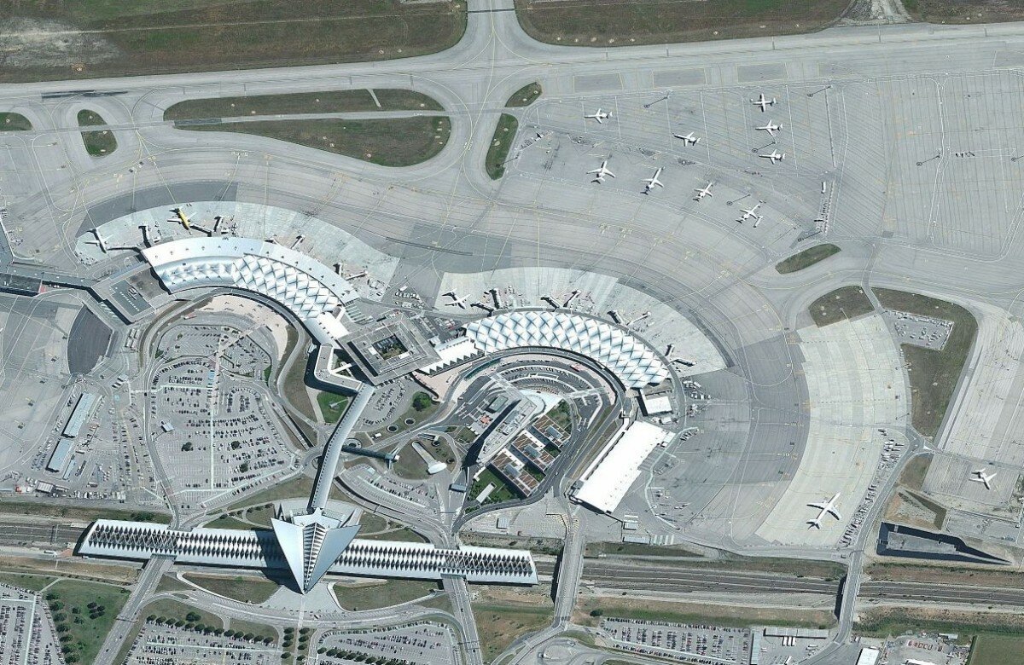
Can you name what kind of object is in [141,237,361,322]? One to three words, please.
building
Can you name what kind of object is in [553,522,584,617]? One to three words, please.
bridge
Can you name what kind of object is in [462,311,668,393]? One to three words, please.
building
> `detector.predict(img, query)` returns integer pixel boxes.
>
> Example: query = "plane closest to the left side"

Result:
[86,226,110,252]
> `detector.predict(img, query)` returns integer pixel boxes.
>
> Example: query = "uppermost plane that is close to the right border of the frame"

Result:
[971,467,994,489]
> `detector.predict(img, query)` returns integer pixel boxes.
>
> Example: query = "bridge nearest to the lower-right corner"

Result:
[797,546,865,665]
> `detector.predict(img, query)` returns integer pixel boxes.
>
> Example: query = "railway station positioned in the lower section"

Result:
[77,520,538,584]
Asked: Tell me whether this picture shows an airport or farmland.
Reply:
airport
